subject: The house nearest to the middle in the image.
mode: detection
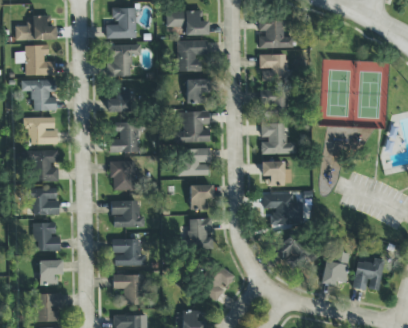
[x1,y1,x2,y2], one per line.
[180,147,212,176]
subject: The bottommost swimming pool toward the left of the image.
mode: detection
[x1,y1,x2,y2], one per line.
[140,46,154,70]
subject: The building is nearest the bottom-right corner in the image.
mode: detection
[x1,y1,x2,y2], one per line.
[354,259,386,292]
